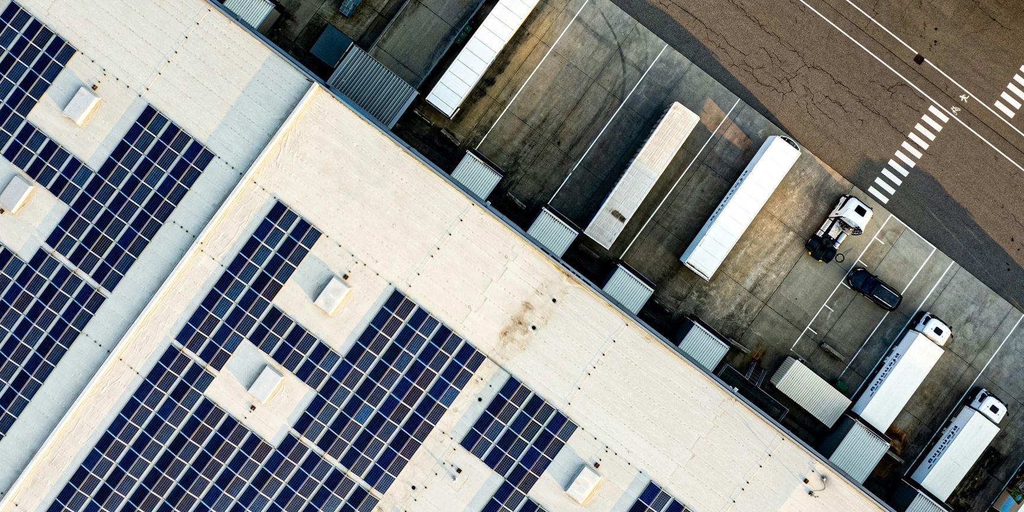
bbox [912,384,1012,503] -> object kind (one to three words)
truck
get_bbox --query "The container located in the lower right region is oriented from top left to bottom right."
[770,355,851,428]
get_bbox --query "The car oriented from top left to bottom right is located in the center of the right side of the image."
[846,269,903,314]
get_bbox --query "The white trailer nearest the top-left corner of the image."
[425,0,541,120]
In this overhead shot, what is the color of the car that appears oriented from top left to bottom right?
black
